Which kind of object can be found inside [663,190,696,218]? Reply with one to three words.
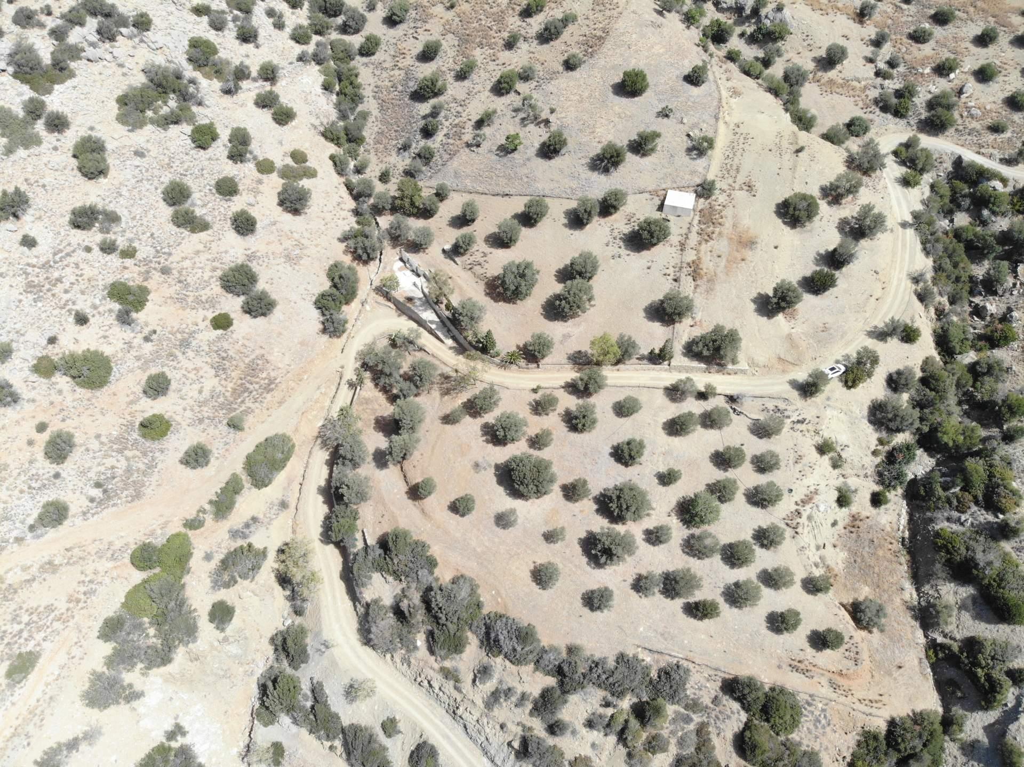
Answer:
shed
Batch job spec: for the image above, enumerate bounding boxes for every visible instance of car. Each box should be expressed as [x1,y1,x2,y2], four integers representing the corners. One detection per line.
[822,363,847,379]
